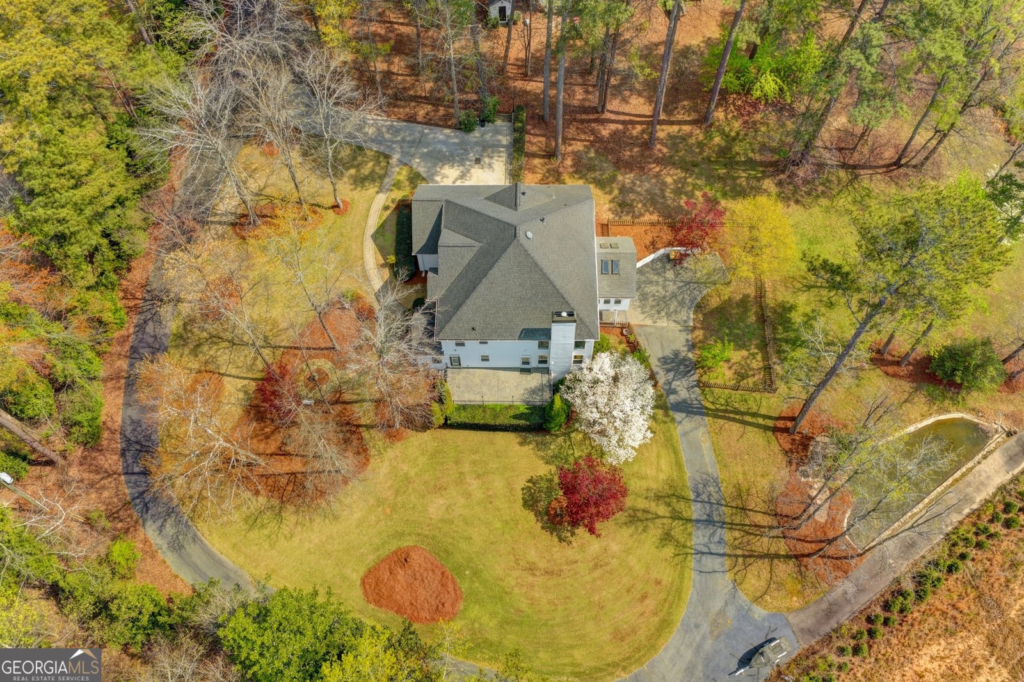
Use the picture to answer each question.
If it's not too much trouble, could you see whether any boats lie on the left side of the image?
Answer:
No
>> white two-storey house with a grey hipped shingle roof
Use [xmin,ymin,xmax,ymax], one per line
[397,179,638,383]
